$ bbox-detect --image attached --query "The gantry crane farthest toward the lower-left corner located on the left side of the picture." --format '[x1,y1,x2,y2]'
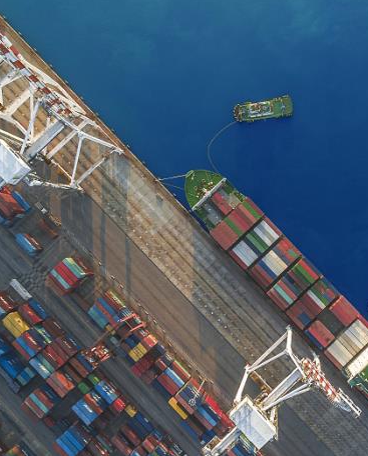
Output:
[80,307,148,368]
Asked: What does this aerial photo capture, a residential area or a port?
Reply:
port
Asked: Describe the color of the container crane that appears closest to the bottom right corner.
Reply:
white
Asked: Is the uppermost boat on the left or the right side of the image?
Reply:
right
